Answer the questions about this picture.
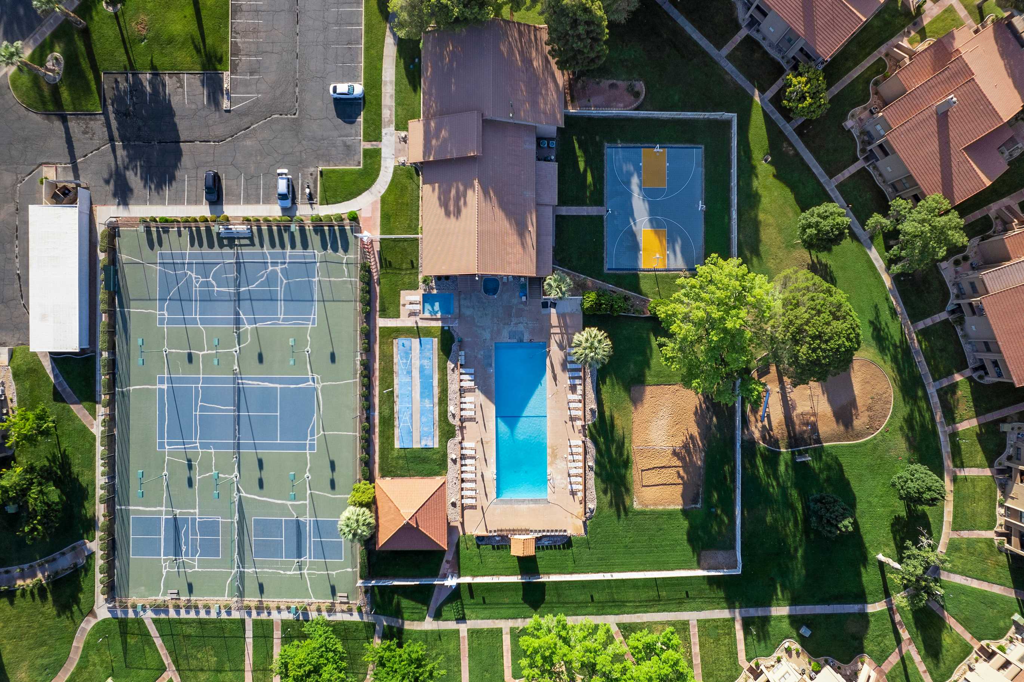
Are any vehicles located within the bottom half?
No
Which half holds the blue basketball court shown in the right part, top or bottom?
top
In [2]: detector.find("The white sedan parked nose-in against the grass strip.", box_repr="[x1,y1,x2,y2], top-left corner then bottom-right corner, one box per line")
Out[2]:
[328,81,362,97]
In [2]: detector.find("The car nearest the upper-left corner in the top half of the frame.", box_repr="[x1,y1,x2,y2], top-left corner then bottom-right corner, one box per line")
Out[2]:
[201,169,219,201]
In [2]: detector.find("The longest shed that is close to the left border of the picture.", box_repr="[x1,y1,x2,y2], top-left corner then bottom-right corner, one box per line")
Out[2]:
[28,204,91,351]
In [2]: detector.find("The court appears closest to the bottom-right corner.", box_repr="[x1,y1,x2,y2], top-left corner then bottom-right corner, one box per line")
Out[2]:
[631,384,706,511]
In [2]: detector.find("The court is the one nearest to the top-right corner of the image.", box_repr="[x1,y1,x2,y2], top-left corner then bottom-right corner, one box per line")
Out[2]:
[607,147,702,270]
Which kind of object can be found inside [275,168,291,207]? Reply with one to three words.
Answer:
car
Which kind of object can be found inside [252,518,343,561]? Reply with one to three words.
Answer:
sports court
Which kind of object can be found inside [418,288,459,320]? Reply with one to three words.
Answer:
swimming pool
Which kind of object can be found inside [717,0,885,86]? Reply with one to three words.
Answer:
building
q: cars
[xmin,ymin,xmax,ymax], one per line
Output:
[201,169,219,201]
[328,81,362,97]
[275,168,291,207]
